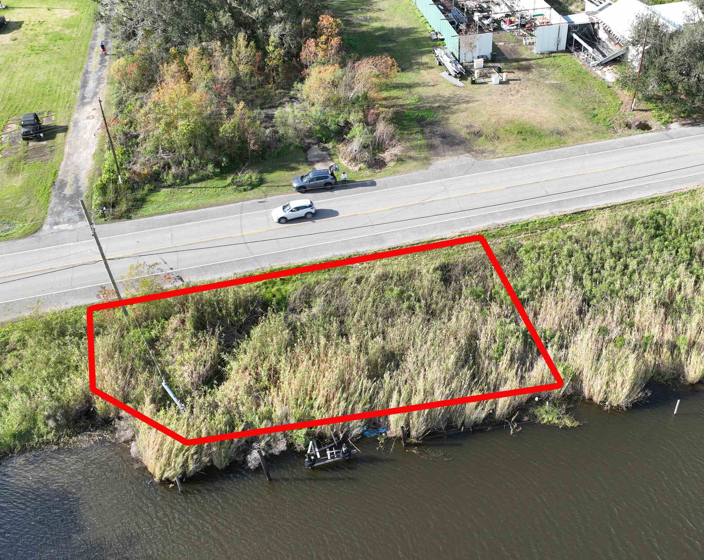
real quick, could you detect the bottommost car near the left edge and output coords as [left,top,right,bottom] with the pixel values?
[12,110,44,137]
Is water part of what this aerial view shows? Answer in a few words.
Yes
